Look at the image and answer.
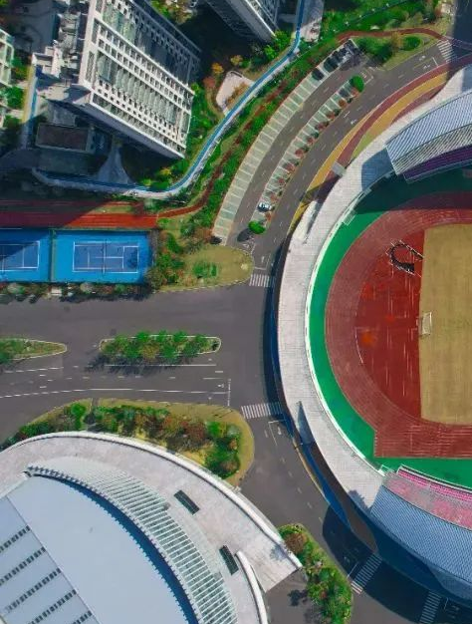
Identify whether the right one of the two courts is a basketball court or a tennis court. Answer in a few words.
tennis court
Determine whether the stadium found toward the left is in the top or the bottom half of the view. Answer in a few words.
bottom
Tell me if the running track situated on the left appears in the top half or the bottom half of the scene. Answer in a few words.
top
